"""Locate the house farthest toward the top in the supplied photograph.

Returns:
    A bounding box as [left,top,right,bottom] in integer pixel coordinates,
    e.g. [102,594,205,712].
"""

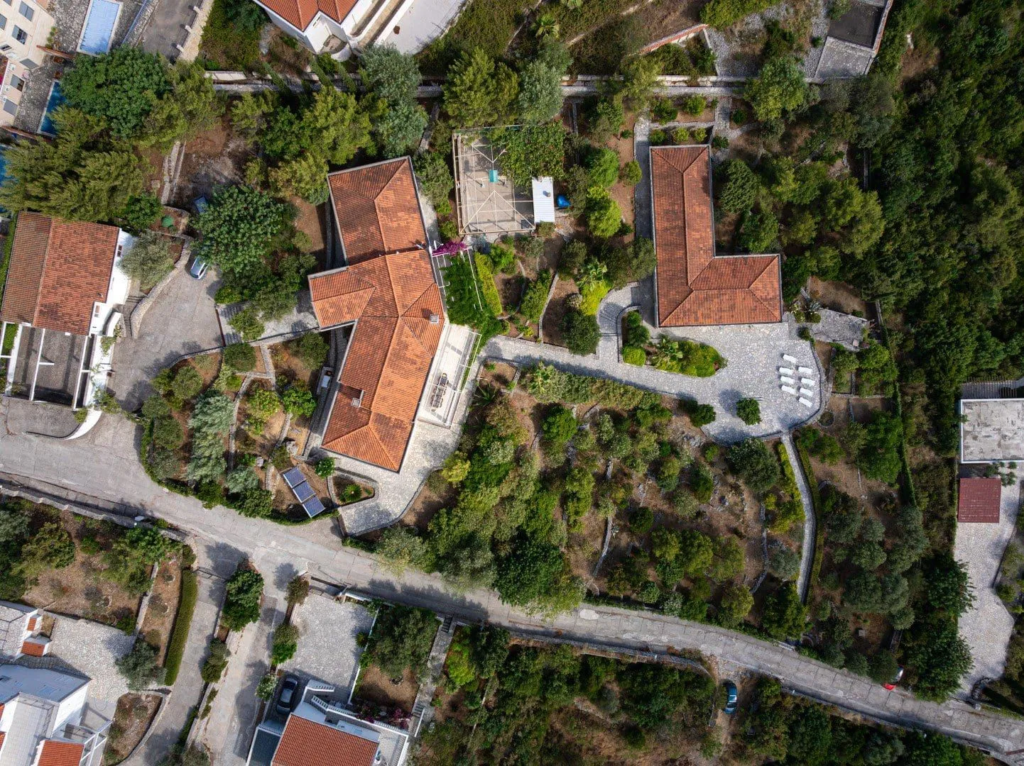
[257,0,368,56]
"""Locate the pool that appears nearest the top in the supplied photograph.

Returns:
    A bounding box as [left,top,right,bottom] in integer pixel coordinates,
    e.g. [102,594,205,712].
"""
[76,0,120,54]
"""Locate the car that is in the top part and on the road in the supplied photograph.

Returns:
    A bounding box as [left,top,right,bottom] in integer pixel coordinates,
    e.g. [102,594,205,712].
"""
[188,251,213,284]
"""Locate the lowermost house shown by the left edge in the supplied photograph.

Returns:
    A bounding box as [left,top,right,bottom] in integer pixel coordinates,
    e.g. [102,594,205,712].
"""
[0,648,112,766]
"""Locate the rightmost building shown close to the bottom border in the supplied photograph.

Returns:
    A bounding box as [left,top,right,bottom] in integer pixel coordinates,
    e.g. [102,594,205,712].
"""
[271,710,379,766]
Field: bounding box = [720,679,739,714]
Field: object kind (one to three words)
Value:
car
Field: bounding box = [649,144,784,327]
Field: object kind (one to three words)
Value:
house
